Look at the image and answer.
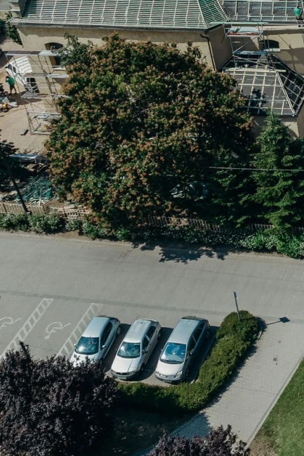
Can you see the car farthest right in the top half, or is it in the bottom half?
bottom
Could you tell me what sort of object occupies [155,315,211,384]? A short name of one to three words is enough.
car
